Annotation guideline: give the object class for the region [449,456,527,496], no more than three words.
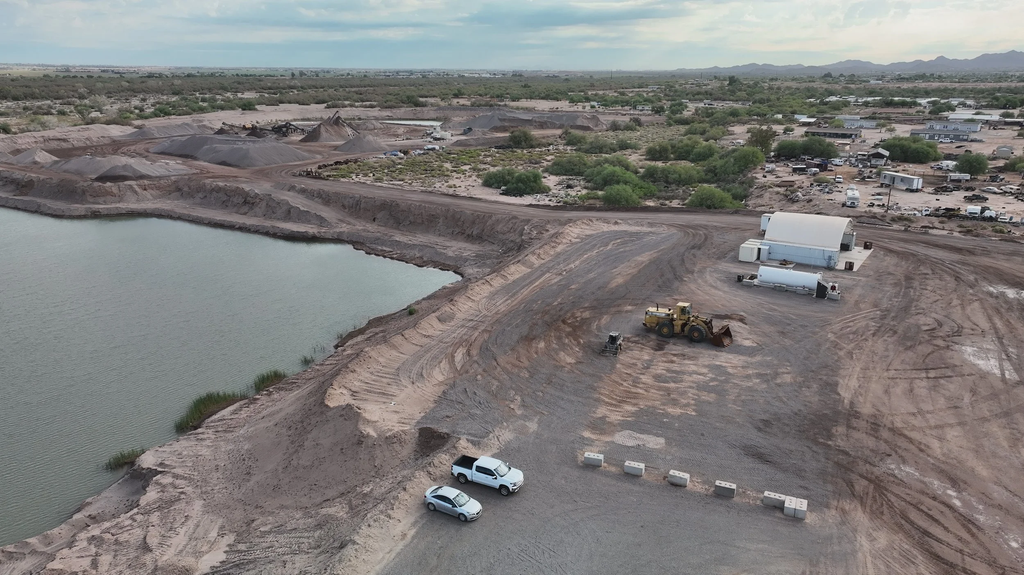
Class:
truck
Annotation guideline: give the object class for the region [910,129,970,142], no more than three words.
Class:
house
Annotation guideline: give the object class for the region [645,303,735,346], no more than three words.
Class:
work vehicle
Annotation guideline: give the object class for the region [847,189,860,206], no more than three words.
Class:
vehicle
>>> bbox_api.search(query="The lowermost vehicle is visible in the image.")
[420,486,484,521]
